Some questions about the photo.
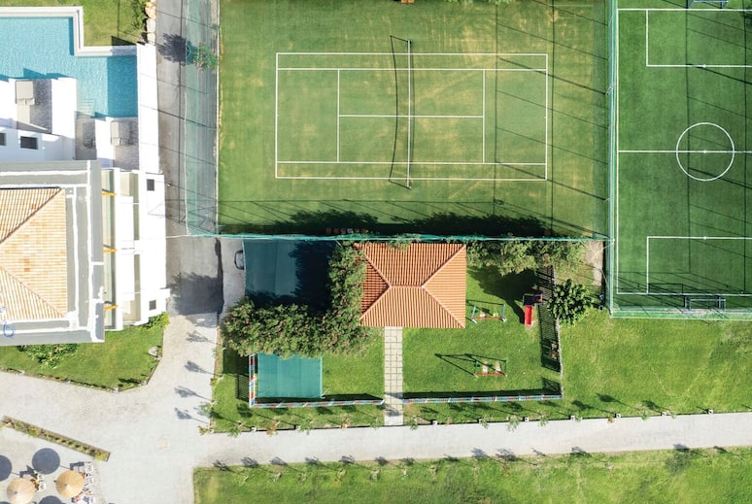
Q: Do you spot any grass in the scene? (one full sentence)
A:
Yes, grass shows up in the scene.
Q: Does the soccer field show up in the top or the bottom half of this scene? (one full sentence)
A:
The soccer field is in the top half of the image.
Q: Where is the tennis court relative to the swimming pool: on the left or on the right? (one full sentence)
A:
From the viewer's perspective, the tennis court falls to the right of the swimming pool.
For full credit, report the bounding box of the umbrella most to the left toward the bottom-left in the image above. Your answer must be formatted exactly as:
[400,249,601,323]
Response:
[9,476,38,504]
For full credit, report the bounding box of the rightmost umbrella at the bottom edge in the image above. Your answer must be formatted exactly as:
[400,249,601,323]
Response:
[58,468,86,497]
